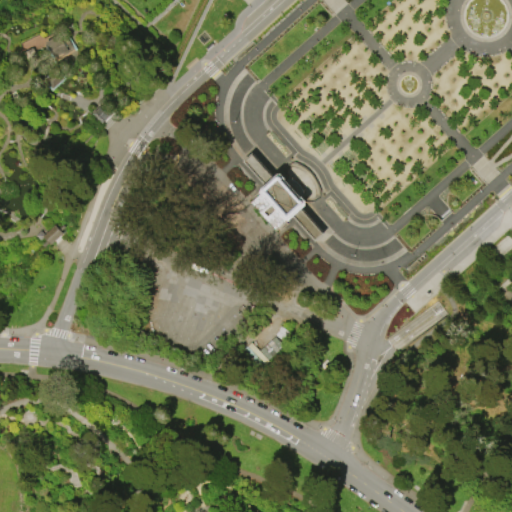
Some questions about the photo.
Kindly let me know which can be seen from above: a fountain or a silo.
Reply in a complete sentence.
This aerial view contains a fountain.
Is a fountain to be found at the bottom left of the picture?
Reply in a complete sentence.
No, there's no fountain to be seen at the bottom left of the picture.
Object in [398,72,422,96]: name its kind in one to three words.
fountain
